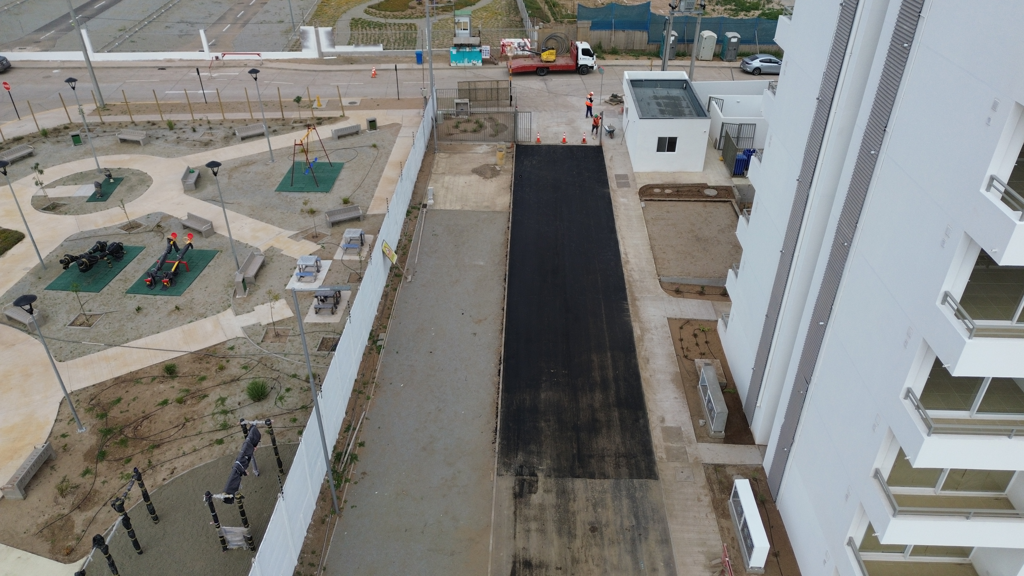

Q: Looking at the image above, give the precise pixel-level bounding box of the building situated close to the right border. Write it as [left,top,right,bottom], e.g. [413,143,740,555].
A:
[718,0,1024,576]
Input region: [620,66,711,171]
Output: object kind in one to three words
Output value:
building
